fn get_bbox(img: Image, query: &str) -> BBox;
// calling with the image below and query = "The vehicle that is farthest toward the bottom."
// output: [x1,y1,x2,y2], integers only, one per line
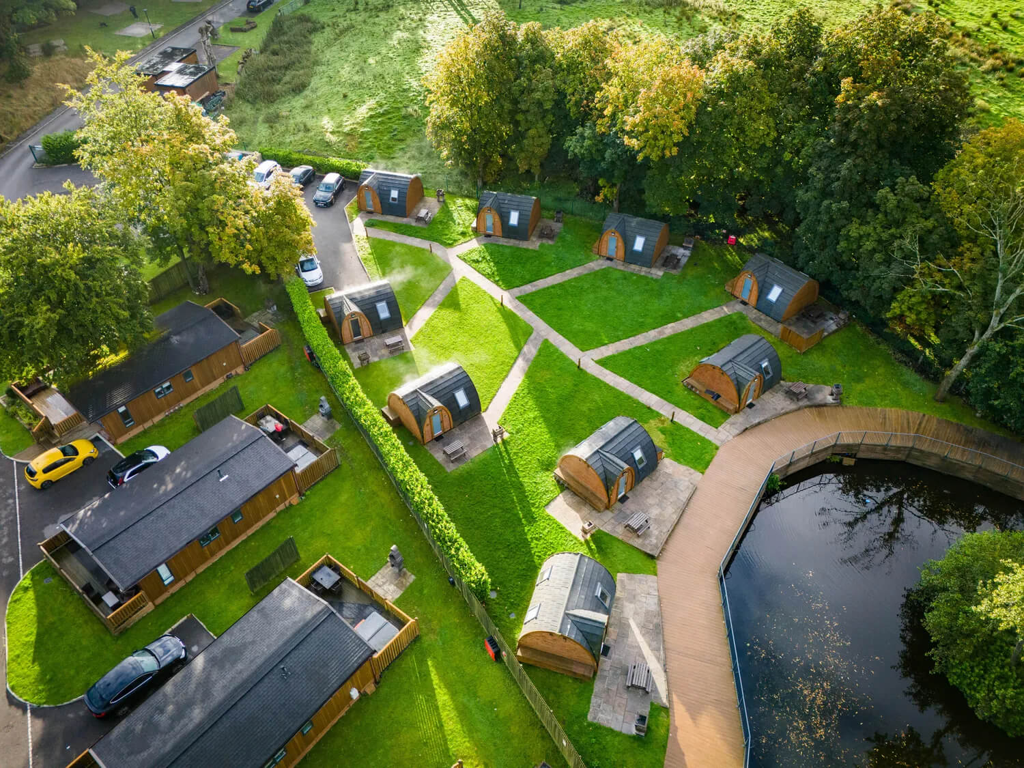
[88,634,191,710]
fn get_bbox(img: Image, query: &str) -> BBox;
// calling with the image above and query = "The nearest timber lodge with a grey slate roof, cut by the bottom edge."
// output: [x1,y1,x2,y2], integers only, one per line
[89,578,377,768]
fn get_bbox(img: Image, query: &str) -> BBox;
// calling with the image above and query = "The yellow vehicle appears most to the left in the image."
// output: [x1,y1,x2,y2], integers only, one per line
[28,439,98,486]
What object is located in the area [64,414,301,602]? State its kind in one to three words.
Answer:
building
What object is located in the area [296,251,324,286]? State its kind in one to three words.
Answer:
car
